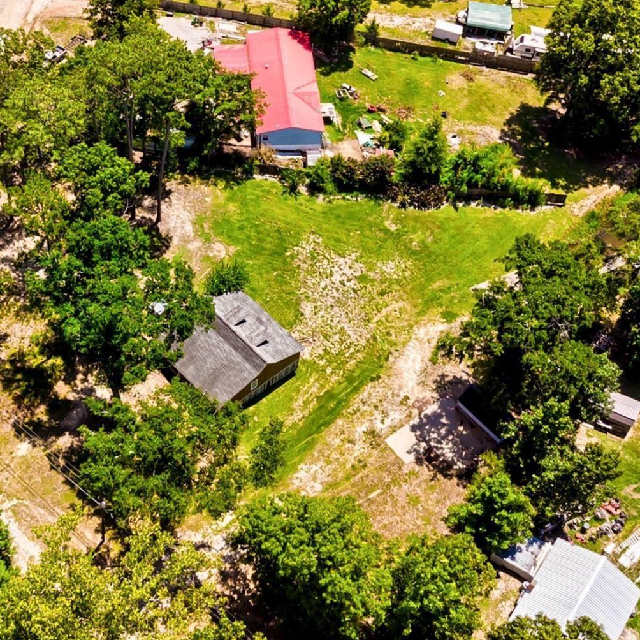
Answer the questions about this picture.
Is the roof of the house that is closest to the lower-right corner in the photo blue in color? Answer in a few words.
No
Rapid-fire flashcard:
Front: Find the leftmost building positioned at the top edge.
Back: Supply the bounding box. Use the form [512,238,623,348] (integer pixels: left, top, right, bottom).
[214,26,334,151]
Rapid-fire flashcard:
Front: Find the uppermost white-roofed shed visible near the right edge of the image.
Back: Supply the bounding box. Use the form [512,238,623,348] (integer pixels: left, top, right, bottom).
[611,395,640,431]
